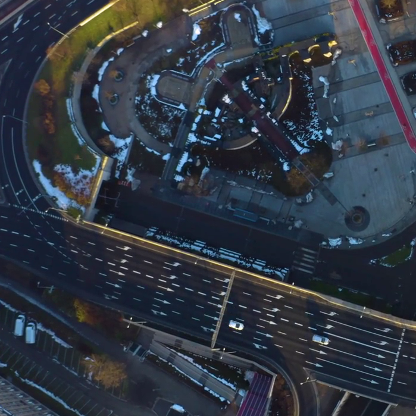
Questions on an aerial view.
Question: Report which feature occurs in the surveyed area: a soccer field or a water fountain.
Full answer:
It is a water fountain that can be seen here.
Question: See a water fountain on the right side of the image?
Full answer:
Yes, on the right side of the image there is a water fountain.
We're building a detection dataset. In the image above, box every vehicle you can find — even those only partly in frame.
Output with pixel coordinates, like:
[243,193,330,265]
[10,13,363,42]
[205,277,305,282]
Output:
[9,315,25,336]
[310,335,329,345]
[228,321,244,329]
[20,323,36,344]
